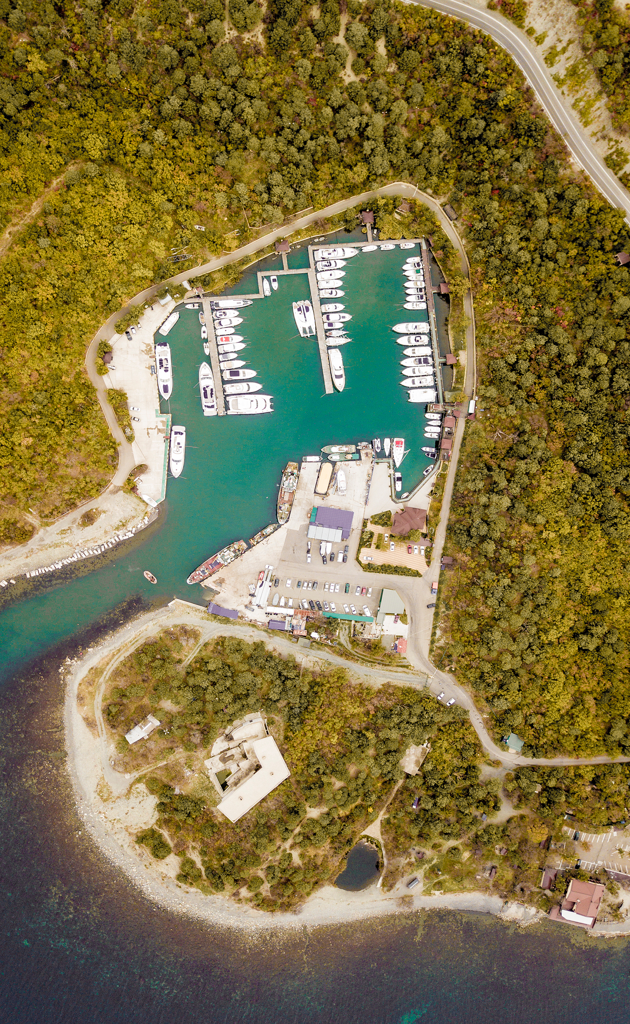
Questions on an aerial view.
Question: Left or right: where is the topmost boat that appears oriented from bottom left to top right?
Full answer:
The topmost boat that appears oriented from bottom left to top right is on the left side of the image.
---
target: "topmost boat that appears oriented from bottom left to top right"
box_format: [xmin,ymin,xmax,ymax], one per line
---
[157,312,183,336]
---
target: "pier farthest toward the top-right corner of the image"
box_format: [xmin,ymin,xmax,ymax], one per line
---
[421,249,435,313]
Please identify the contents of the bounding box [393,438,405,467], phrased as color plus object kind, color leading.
white boat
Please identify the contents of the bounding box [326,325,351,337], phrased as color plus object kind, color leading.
white boat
